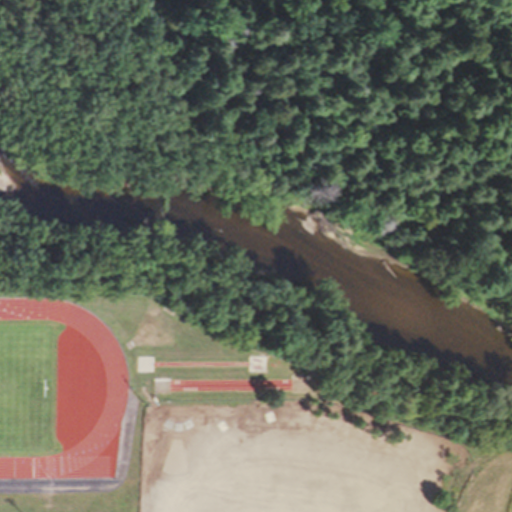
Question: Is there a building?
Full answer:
No, no building can be seen from above.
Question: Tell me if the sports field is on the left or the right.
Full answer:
The sports field sits on the left side.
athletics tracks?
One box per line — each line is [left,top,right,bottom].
[0,298,129,480]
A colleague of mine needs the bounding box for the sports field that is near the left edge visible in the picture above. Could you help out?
[0,320,66,457]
